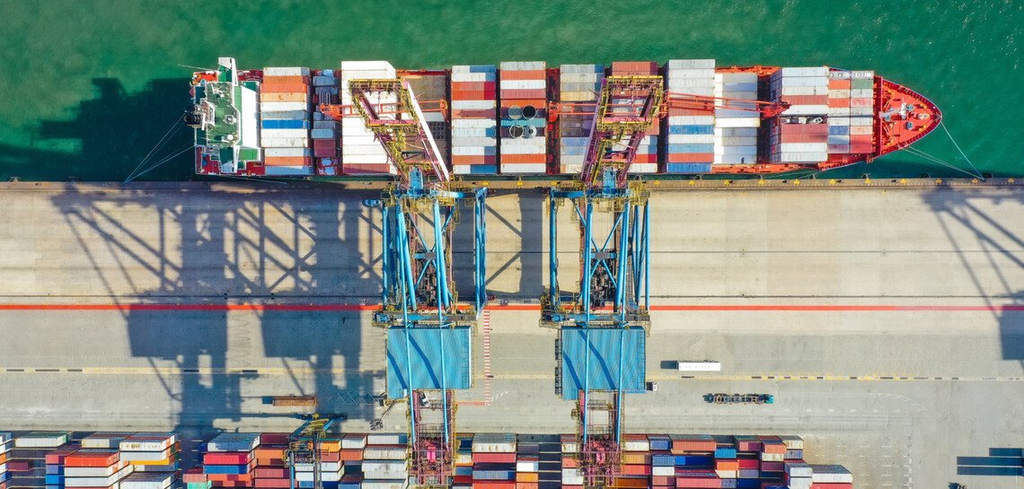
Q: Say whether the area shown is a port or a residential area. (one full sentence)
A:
It's a port.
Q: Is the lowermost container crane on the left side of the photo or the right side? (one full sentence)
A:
The lowermost container crane sits on the left side.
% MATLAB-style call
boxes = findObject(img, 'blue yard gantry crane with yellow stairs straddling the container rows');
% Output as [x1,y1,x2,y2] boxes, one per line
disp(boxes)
[277,410,350,489]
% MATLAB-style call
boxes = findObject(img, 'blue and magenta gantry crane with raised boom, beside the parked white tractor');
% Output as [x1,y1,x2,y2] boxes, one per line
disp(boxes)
[539,83,669,489]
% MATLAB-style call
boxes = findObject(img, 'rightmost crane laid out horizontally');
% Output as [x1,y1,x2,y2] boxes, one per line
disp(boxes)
[664,88,794,118]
